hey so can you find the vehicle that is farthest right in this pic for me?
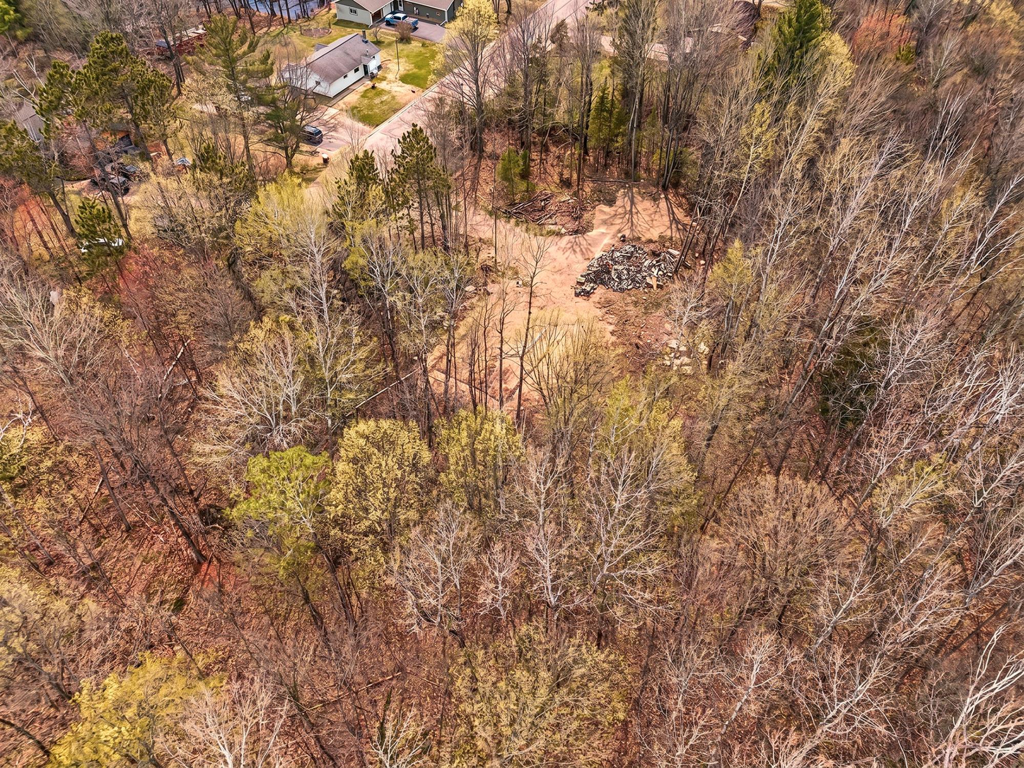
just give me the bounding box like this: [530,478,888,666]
[385,10,422,30]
